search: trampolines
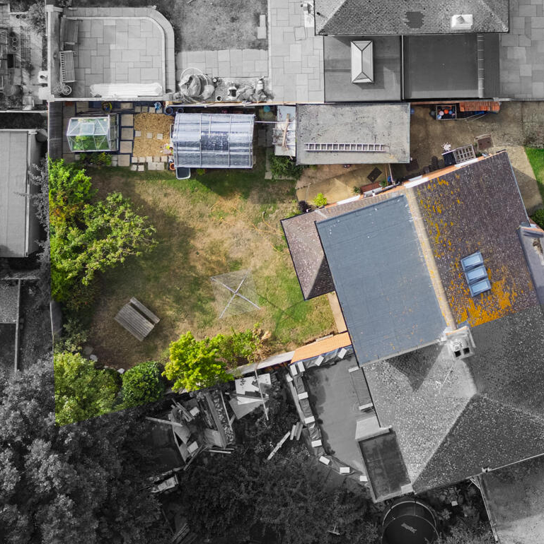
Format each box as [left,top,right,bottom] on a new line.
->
[382,497,439,544]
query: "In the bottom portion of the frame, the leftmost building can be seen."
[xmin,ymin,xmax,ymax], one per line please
[210,384,237,447]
